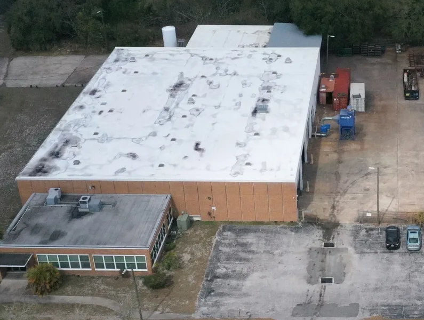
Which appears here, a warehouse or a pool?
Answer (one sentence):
Visible in the photo is a warehouse.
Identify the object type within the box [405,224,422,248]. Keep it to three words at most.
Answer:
car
